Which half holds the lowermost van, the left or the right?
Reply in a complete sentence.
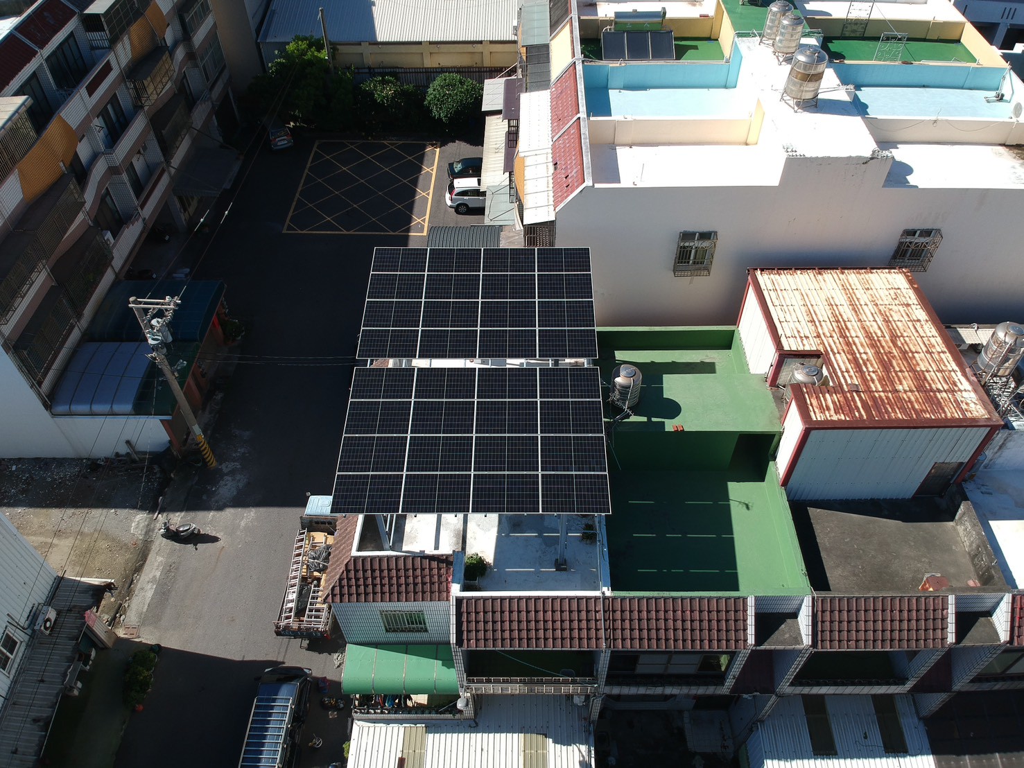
The lowermost van sits on the left side.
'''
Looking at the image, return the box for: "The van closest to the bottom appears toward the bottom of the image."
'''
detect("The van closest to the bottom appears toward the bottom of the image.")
[238,669,318,768]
